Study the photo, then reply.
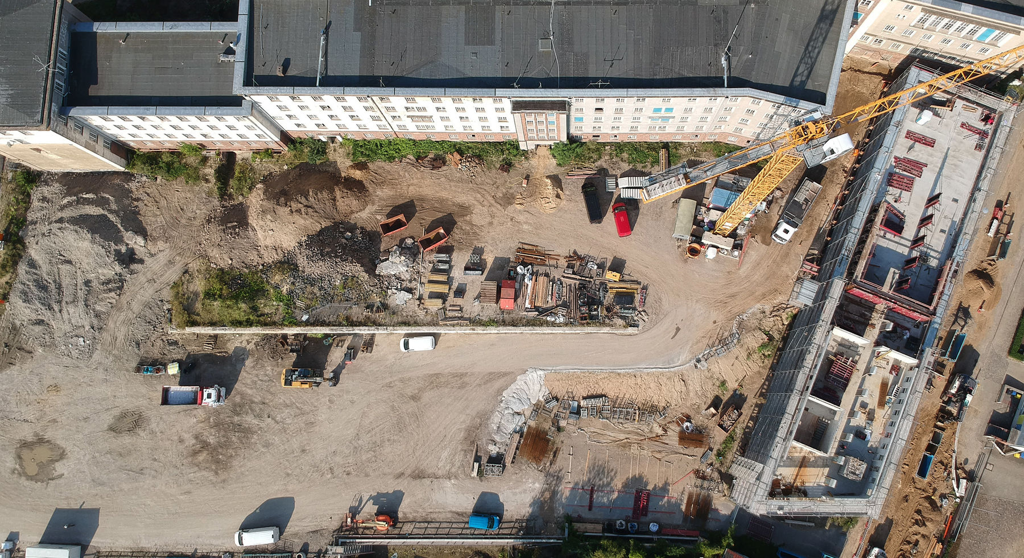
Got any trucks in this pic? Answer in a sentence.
Yes, looking at the shot, I can spot a truck.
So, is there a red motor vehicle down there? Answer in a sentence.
Yes, the picture does show a red motor vehicle.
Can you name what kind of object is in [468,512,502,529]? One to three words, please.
vehicle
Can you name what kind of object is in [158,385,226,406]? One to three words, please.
truck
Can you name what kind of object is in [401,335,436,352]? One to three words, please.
vehicle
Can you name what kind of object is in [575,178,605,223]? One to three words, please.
truck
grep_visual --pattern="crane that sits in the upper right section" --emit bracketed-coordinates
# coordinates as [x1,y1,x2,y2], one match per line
[648,44,1024,247]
